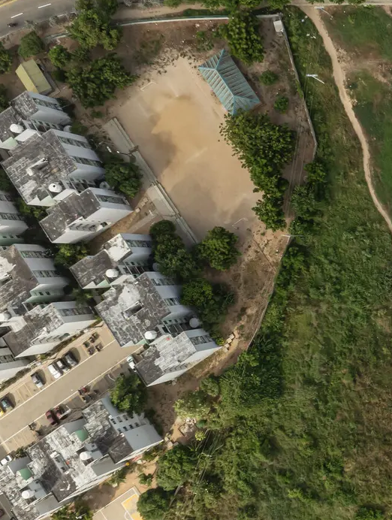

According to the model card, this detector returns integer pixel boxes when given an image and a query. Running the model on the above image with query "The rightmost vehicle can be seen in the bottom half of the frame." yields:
[122,352,137,371]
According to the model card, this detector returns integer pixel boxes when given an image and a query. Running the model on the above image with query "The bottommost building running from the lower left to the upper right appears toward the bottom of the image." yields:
[0,392,162,520]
